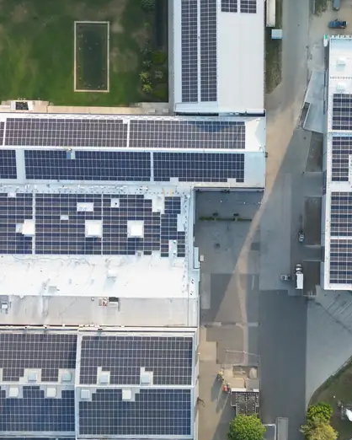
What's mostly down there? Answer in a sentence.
For the most part, this view shows buildings.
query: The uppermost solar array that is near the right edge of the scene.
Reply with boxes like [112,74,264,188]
[333,94,352,130]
